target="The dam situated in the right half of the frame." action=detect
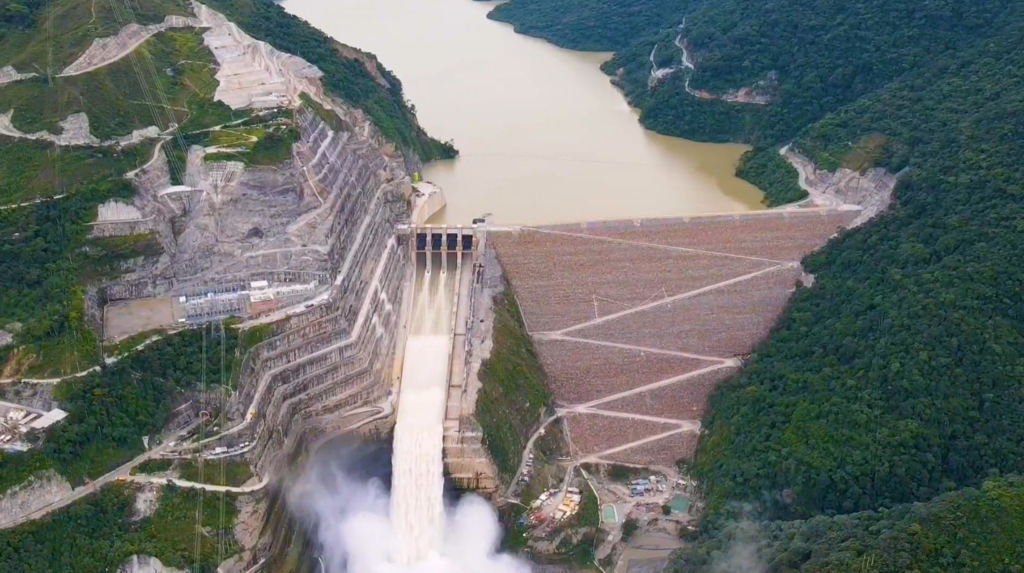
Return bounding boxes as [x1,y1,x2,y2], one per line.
[479,204,862,475]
